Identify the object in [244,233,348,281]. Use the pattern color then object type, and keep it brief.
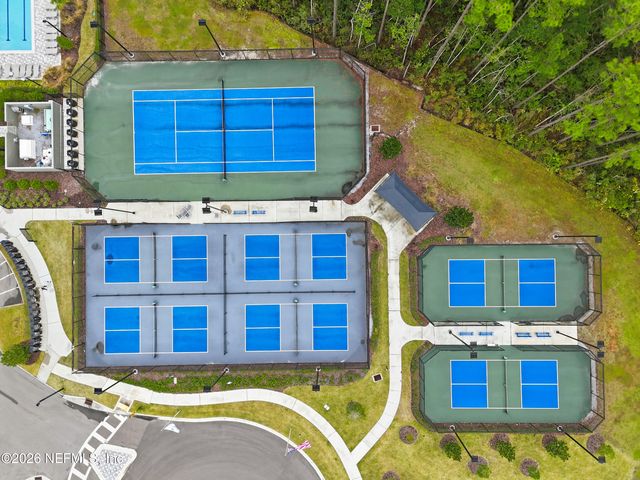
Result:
blue sports court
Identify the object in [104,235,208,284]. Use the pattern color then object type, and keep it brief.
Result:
blue sports court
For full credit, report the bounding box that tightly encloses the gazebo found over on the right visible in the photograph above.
[374,171,438,232]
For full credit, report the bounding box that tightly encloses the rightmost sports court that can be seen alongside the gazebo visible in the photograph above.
[423,244,589,321]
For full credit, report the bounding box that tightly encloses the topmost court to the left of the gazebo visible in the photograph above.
[83,60,364,201]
